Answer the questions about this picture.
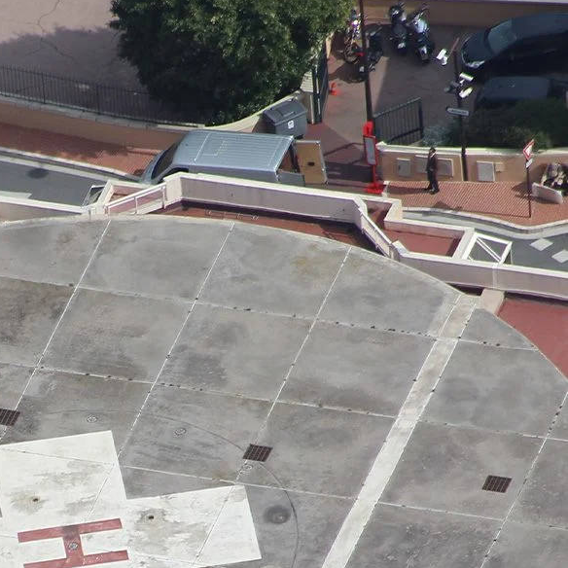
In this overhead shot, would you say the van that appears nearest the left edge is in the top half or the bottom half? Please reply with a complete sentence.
The van that appears nearest the left edge sits in the top half of the picture.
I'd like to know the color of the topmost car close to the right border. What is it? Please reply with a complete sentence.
The topmost car close to the right border is black.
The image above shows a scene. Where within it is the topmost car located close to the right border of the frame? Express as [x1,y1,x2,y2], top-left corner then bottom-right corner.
[459,4,568,86]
